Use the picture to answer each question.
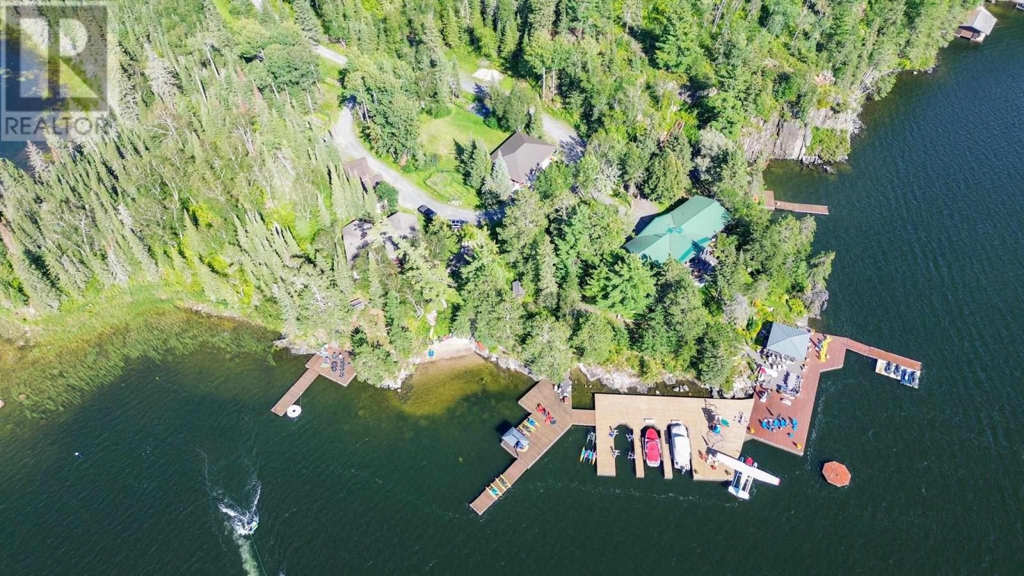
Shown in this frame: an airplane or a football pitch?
airplane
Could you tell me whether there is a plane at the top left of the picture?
No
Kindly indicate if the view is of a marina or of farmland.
marina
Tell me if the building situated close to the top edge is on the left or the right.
right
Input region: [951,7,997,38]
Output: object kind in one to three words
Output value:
building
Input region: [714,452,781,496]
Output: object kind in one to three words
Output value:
airplane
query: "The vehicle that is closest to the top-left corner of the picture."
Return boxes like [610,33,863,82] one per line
[413,202,439,220]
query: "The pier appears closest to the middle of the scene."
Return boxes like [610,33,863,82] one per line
[500,379,572,470]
